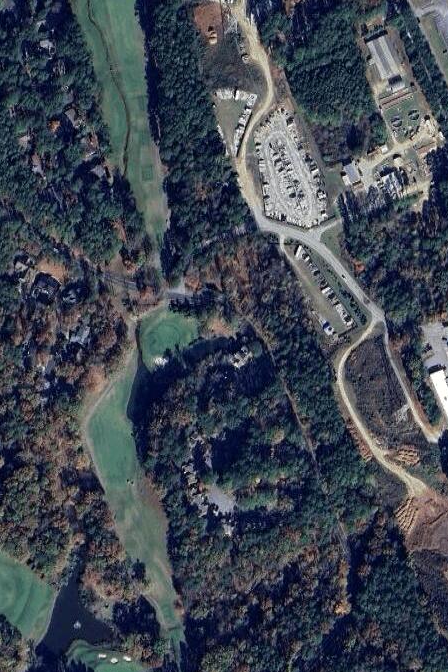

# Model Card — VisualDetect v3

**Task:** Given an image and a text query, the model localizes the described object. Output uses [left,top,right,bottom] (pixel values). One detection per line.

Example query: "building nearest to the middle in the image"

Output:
[224,344,251,368]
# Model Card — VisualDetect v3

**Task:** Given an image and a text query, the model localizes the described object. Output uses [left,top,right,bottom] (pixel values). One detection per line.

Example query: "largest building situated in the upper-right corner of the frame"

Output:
[367,34,401,80]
